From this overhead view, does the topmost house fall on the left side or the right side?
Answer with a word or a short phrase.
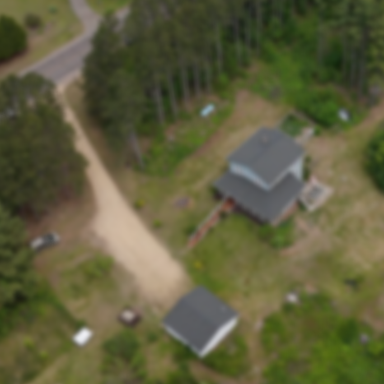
right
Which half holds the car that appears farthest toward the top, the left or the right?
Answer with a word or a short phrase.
left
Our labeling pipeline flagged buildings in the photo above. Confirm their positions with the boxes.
[162,287,239,359]
[212,126,307,230]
